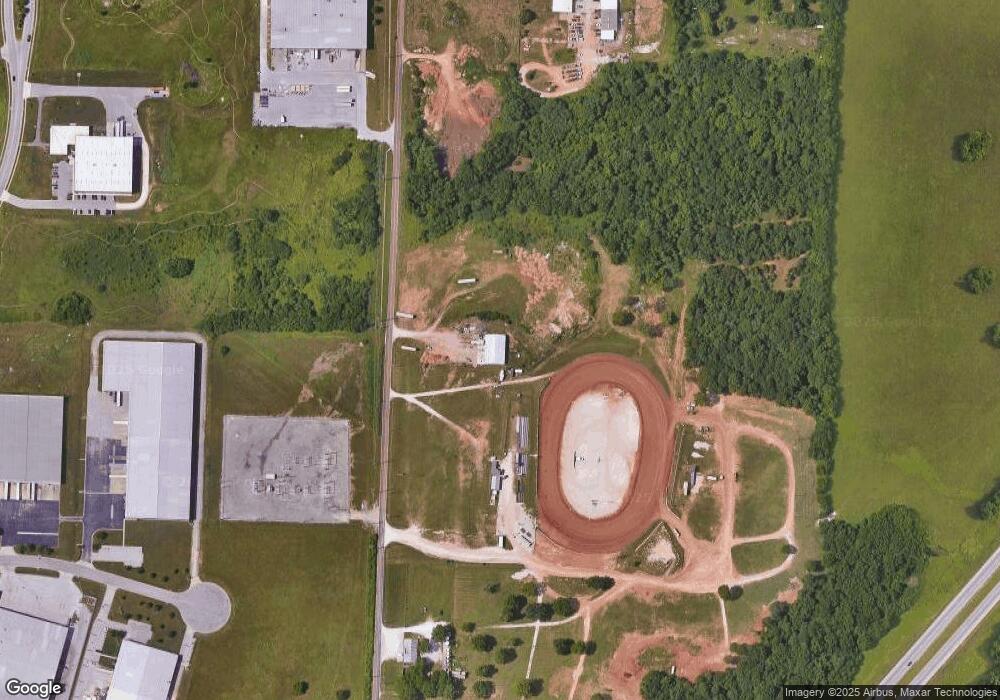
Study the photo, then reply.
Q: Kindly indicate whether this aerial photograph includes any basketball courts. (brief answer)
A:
No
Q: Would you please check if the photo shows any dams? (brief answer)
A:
No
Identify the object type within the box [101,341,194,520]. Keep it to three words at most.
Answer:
building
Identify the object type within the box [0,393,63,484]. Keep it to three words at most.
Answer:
building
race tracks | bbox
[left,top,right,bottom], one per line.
[537,351,674,556]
